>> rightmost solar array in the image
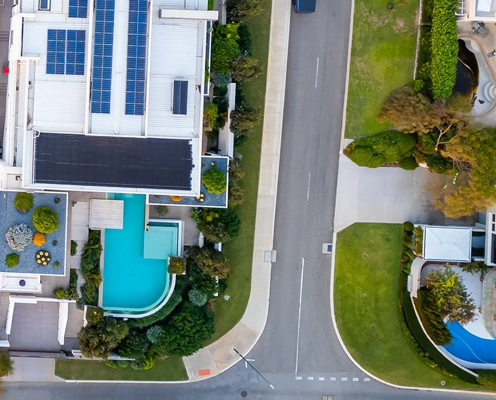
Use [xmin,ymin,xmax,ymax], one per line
[125,0,148,115]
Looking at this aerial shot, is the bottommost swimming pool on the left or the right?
right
